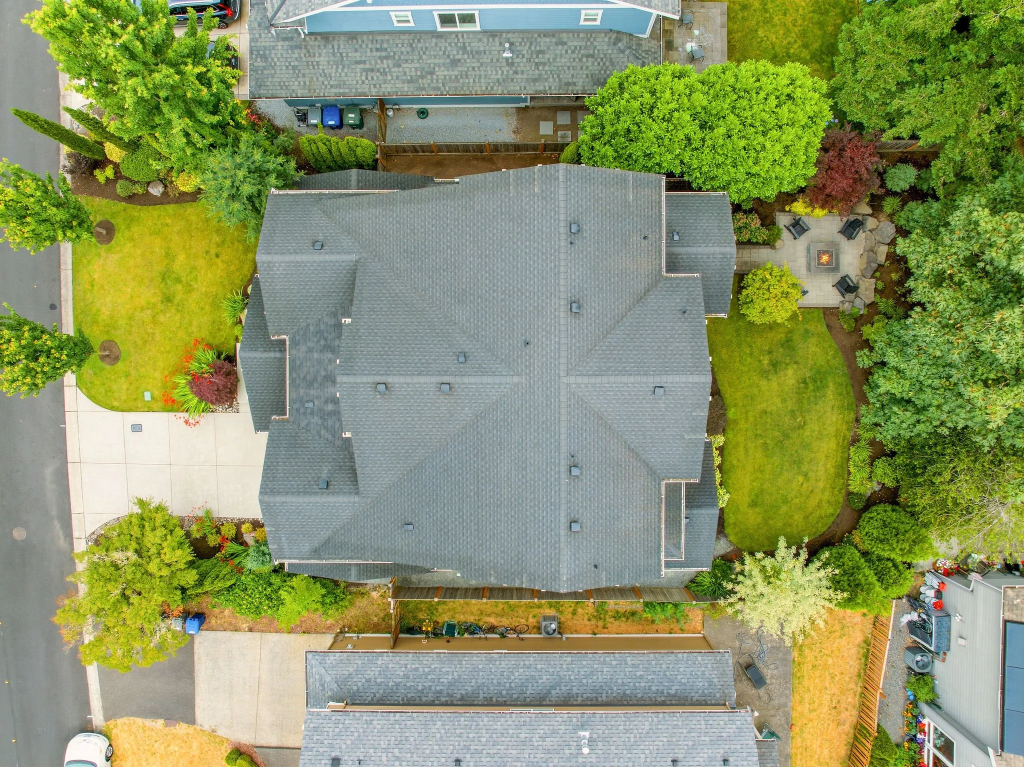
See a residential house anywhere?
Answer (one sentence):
Yes, there's a residential house here.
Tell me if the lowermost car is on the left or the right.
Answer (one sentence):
It is on the left.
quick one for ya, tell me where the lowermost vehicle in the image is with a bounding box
[61,731,117,767]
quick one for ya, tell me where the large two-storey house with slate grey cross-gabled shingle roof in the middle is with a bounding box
[239,163,736,593]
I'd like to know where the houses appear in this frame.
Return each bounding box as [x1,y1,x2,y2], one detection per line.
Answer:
[239,163,736,593]
[297,630,779,767]
[925,565,1024,767]
[234,0,682,108]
